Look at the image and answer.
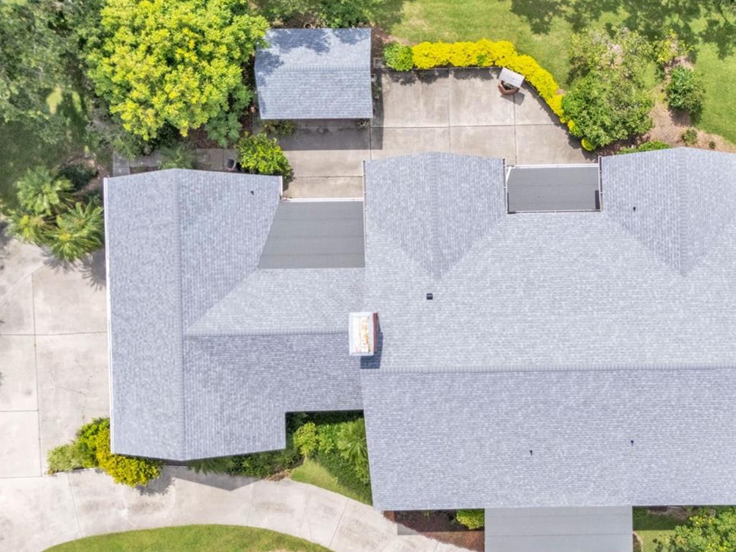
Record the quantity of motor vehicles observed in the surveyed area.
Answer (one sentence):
The picture shows no motor vehicles.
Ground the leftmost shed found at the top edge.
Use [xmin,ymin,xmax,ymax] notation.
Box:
[253,28,373,123]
